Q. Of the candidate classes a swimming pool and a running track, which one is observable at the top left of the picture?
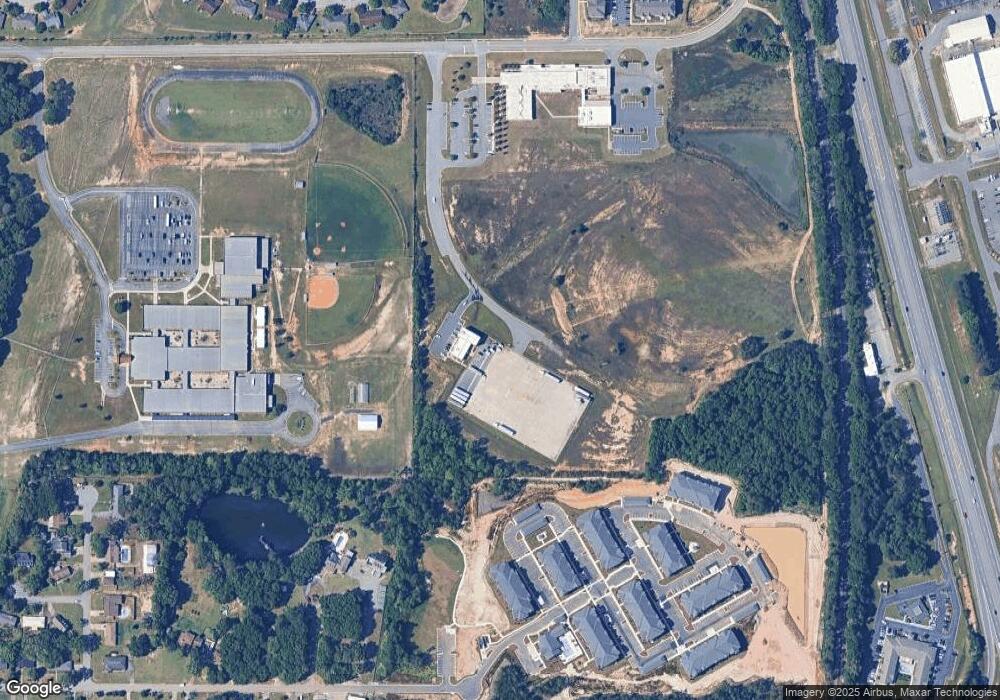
running track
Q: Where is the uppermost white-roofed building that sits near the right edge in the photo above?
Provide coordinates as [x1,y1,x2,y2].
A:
[944,16,993,49]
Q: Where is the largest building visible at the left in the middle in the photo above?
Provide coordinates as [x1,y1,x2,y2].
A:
[131,305,271,420]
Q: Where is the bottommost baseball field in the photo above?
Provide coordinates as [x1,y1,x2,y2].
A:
[304,272,376,346]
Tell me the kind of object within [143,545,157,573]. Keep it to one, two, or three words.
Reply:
shed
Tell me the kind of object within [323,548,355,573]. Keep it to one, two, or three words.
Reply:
house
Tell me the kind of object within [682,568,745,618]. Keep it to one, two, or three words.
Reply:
building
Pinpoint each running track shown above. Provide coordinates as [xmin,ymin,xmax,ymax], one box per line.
[142,69,321,153]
